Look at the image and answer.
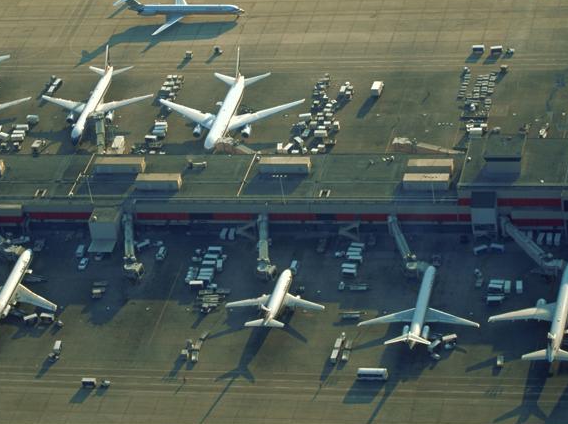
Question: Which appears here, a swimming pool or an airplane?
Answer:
airplane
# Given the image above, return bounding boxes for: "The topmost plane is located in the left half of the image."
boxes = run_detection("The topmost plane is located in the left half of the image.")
[121,0,246,35]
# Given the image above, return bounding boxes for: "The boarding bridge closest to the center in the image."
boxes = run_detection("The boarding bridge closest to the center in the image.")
[254,214,279,283]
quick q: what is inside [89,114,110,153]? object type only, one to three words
jet bridge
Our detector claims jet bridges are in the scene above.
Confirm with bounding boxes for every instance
[0,243,22,266]
[384,215,426,283]
[499,222,565,281]
[120,215,146,283]
[89,114,110,153]
[221,137,266,153]
[254,214,279,283]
